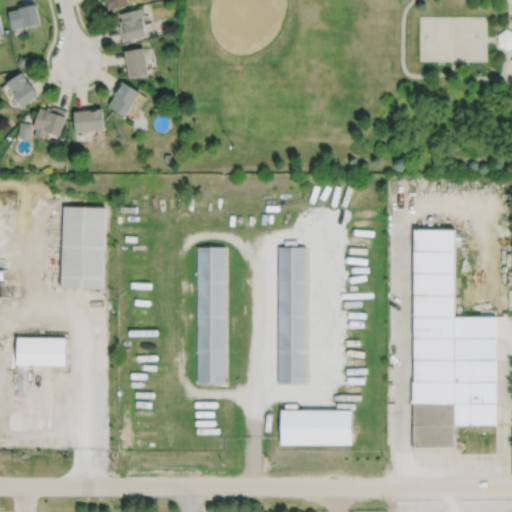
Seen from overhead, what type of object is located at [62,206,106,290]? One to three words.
building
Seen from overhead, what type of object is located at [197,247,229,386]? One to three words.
shed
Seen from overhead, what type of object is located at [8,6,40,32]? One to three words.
house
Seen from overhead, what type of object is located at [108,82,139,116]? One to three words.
house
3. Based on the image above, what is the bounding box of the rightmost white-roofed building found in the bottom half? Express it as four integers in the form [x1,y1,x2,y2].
[414,228,498,448]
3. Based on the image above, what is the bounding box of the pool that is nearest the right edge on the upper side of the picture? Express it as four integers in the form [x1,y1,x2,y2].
[153,114,170,131]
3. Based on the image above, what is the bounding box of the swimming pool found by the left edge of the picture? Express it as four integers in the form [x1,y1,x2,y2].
[16,140,32,156]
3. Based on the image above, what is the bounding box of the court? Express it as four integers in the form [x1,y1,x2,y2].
[420,17,488,62]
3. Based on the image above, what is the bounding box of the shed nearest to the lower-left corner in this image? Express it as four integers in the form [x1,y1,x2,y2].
[14,336,66,367]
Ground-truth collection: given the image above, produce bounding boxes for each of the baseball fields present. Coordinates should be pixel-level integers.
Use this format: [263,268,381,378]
[182,0,401,119]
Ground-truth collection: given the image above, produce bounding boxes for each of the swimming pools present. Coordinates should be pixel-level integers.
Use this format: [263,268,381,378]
[16,140,32,156]
[153,114,170,131]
